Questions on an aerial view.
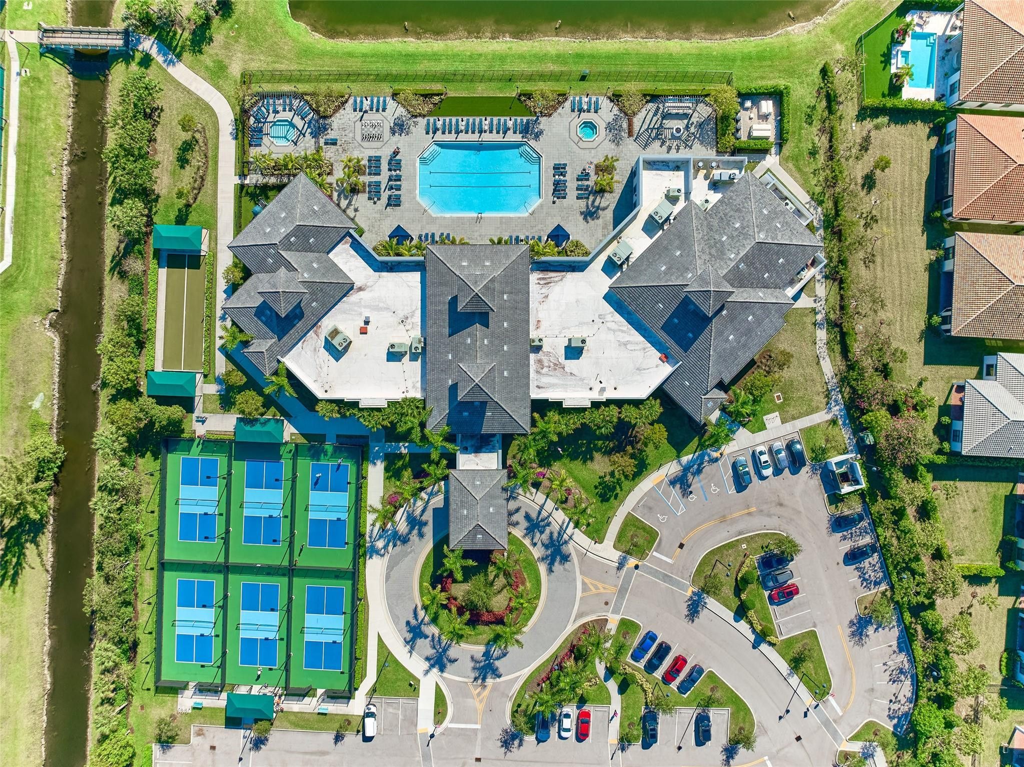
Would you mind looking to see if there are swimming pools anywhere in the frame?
Yes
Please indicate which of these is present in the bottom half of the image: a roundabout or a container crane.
roundabout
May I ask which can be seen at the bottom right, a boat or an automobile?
automobile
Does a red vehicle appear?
Yes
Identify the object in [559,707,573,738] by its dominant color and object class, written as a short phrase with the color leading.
white car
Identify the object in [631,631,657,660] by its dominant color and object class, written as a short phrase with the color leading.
blue car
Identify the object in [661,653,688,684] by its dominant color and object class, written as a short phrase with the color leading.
red car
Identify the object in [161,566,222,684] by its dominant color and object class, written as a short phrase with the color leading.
green sports court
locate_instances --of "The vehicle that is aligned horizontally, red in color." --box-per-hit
[768,583,800,602]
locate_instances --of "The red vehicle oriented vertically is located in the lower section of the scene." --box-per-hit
[577,708,592,739]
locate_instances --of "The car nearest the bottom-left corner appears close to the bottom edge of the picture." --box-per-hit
[363,703,378,736]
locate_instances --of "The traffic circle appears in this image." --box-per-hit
[384,492,579,682]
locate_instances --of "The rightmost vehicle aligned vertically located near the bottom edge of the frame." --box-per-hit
[697,709,712,746]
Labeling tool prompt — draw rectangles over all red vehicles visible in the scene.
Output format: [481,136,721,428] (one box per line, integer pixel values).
[768,583,800,602]
[577,708,592,739]
[661,653,688,684]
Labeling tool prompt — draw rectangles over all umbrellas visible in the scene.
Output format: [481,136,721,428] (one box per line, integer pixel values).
[546,222,571,244]
[388,220,415,245]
